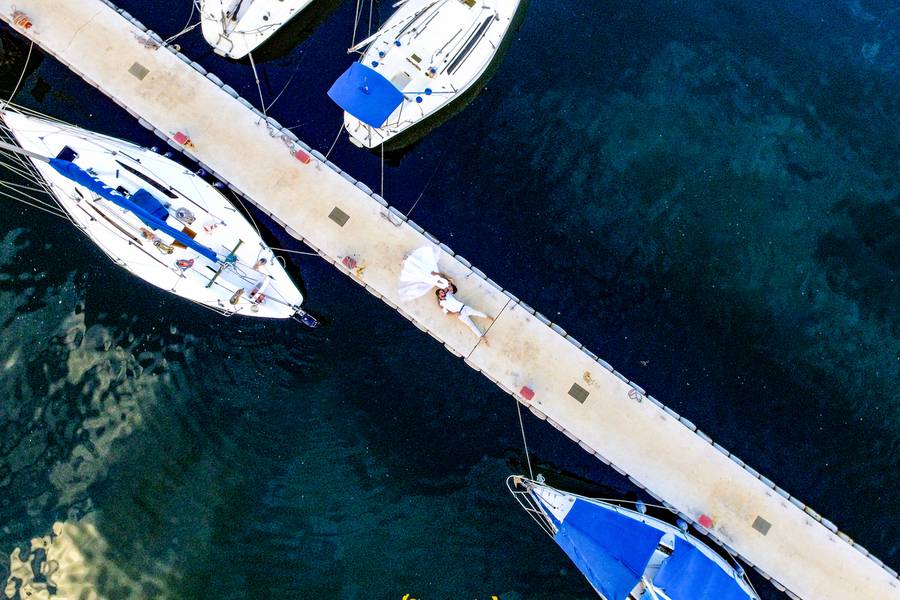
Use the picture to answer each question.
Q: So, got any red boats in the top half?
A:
No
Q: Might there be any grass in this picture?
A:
No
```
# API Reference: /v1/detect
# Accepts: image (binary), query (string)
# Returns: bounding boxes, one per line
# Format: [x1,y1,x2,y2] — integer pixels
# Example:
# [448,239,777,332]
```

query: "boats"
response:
[330,0,525,149]
[200,0,315,60]
[507,473,765,600]
[0,107,317,327]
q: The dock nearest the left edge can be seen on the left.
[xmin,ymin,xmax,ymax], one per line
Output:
[0,0,512,359]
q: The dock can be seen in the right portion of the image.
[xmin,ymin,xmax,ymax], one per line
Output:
[468,298,900,600]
